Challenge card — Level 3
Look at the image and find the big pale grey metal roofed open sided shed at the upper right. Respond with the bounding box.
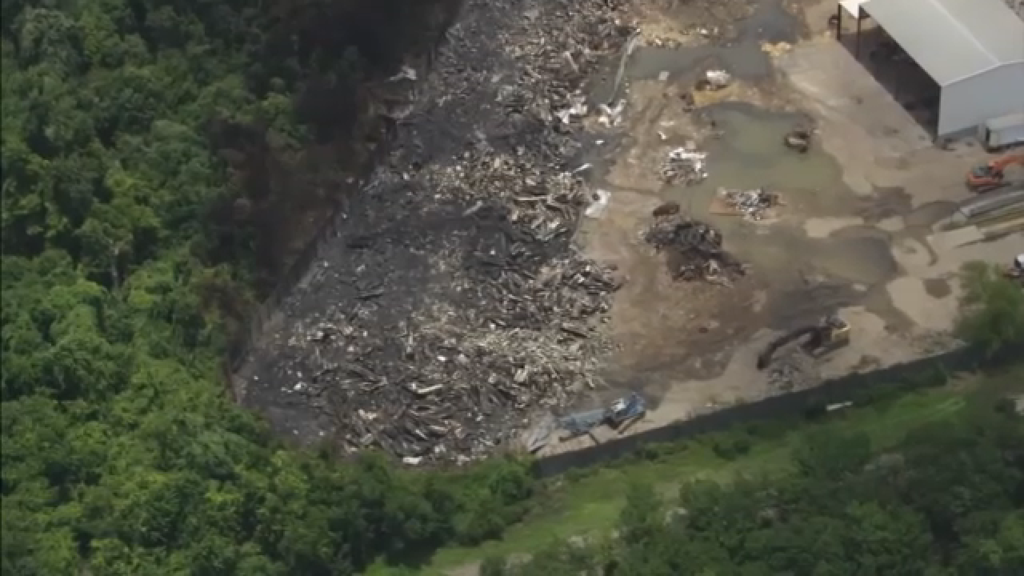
[838,0,1024,141]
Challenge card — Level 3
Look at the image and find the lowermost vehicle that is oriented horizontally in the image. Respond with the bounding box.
[758,319,858,369]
